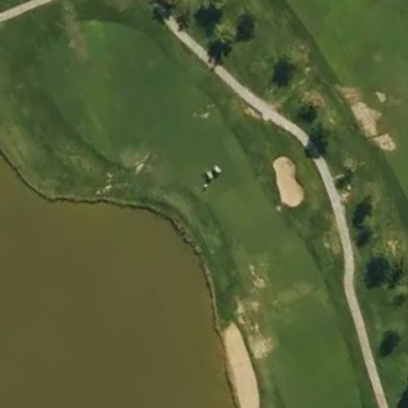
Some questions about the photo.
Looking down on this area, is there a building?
No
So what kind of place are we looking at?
golf course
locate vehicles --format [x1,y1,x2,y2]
[206,170,214,180]
[213,164,222,174]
